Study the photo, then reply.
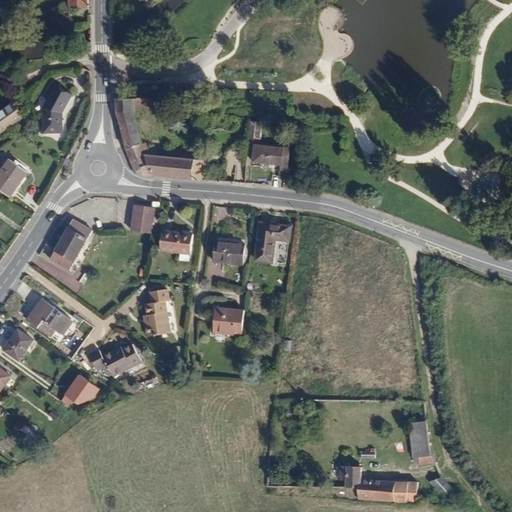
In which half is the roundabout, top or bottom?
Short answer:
top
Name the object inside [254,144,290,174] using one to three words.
house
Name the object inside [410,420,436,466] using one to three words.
barn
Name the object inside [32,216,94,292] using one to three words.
house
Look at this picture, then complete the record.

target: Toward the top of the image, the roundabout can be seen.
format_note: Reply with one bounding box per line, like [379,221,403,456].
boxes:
[59,104,151,200]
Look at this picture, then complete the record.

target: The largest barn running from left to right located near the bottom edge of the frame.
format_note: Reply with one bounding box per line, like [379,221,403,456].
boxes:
[356,478,420,504]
